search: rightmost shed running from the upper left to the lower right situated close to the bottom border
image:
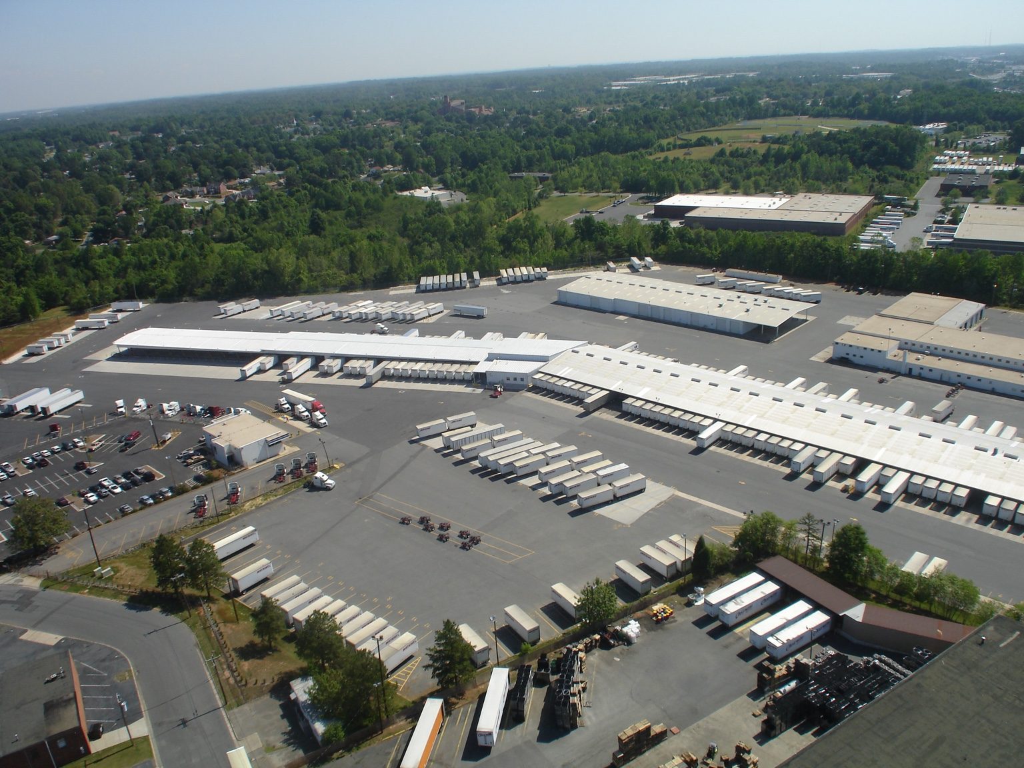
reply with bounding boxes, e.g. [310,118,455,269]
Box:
[288,676,350,757]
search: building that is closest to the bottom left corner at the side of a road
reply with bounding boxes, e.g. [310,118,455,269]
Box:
[0,647,87,768]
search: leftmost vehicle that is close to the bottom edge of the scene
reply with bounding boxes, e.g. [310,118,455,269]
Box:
[83,719,107,741]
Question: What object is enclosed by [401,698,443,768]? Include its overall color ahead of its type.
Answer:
white trailer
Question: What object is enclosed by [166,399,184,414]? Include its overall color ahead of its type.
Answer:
white vehicle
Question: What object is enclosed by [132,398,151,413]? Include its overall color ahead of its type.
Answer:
white vehicle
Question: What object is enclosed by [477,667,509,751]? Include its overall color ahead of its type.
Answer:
white trailer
